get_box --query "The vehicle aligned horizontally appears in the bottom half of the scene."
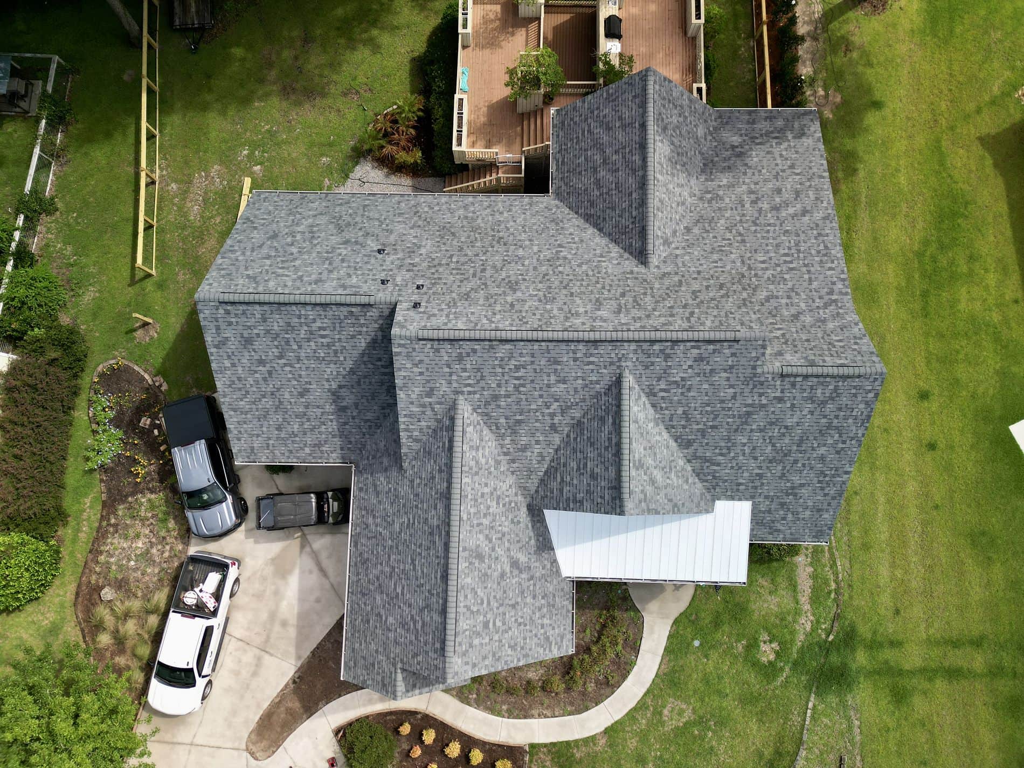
[253,486,347,529]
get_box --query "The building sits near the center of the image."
[196,68,885,700]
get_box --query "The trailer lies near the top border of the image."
[168,0,225,52]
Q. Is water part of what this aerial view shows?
No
